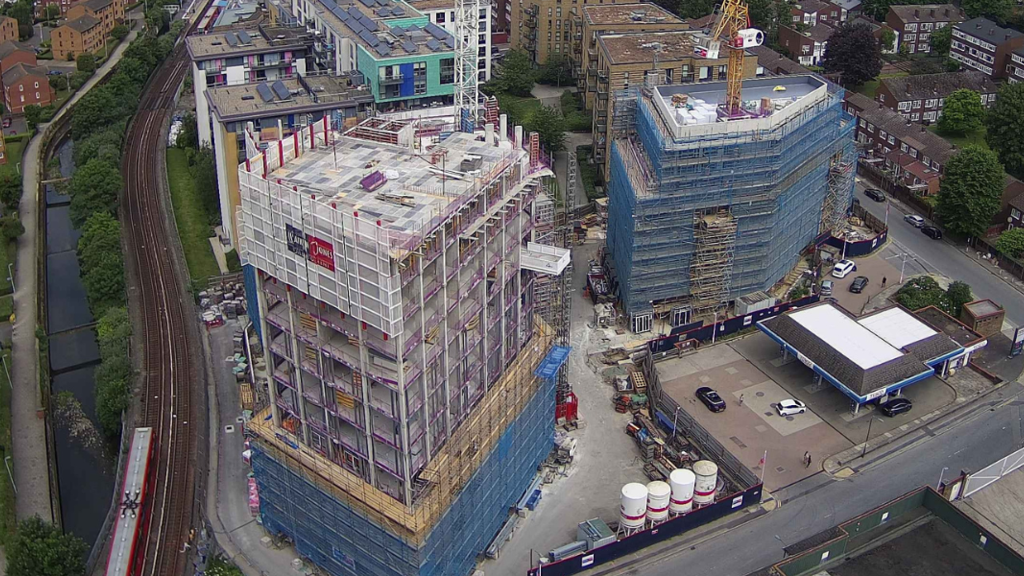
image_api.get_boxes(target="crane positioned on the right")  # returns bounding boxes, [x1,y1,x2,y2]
[690,0,777,116]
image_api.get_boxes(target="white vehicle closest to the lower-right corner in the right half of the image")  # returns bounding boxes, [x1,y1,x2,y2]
[773,399,809,416]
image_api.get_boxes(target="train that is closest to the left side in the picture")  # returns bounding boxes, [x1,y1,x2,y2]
[106,427,163,576]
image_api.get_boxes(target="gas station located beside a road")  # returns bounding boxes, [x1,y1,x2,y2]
[756,301,967,425]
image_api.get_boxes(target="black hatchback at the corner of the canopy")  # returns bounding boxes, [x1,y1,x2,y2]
[878,396,920,418]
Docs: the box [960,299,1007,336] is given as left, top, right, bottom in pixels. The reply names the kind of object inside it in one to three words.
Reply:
building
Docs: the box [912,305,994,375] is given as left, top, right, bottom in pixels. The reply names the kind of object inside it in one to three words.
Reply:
building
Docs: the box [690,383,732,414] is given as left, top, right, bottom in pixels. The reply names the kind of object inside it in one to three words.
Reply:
car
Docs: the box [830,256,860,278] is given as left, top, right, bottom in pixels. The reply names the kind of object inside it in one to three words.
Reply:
car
